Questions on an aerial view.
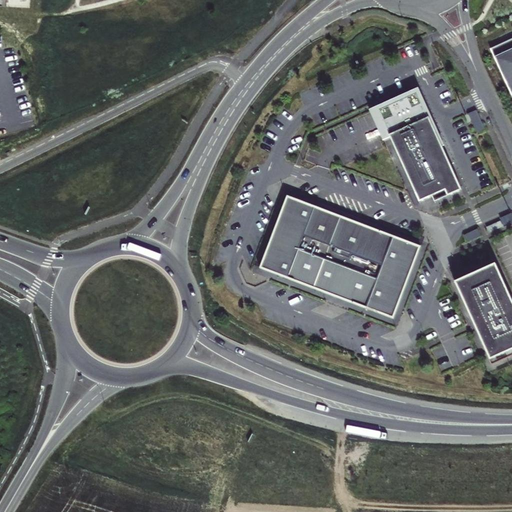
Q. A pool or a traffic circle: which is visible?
traffic circle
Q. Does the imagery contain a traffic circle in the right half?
No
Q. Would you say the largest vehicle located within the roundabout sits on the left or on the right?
left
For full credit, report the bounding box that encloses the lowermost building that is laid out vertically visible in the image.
[455,262,512,373]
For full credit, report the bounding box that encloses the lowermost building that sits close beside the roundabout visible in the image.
[260,195,423,326]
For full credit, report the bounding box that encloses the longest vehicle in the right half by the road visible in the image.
[346,426,388,440]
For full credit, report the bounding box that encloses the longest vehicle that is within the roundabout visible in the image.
[122,240,162,259]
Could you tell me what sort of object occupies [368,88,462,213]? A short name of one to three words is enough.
building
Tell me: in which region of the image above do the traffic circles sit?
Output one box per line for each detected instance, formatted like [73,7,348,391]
[50,236,202,388]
